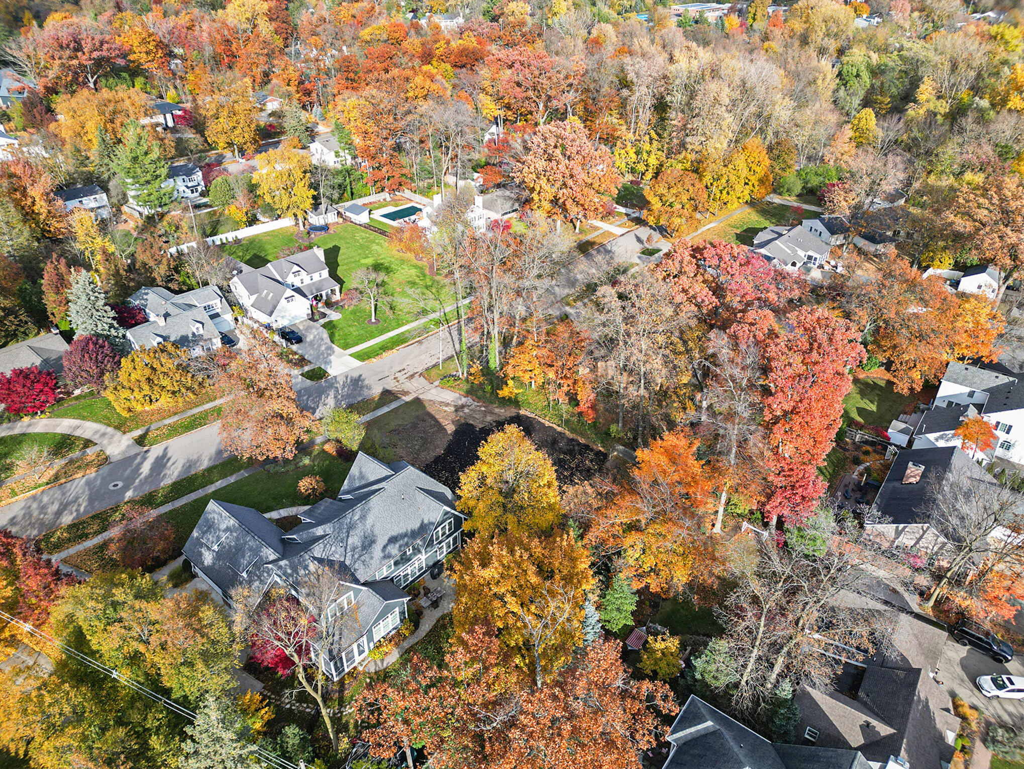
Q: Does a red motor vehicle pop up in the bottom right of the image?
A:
No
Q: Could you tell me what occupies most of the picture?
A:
trees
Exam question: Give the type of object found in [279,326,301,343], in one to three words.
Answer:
car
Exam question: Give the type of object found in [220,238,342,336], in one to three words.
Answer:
house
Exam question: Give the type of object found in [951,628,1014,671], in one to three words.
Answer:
car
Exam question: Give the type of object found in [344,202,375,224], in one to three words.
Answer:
shed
